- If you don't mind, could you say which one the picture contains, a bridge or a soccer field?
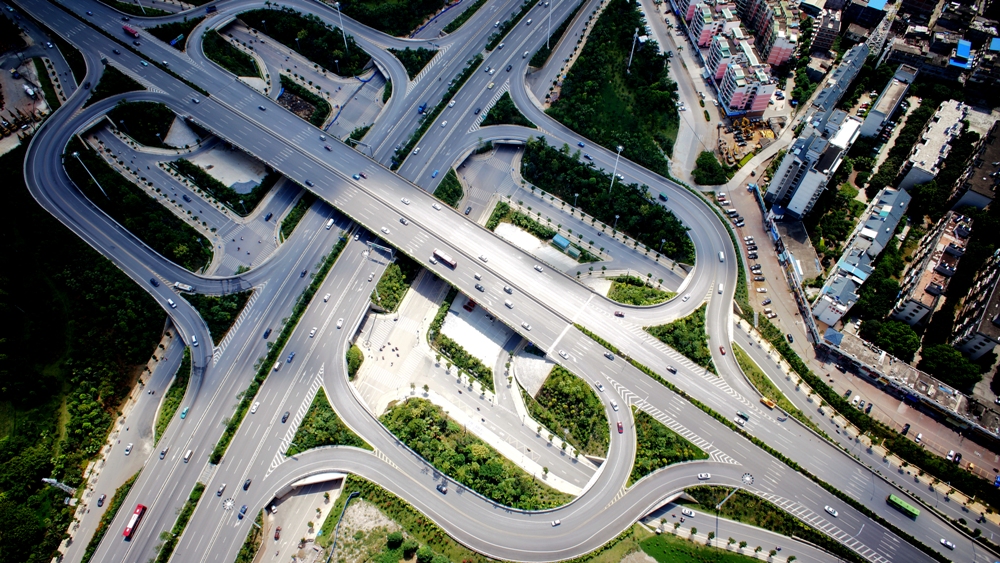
bridge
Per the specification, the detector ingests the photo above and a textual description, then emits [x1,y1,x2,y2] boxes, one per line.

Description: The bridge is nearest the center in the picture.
[208,76,594,323]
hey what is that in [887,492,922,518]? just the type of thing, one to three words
bus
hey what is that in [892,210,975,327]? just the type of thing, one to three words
building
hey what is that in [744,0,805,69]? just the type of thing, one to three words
building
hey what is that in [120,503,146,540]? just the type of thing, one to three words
bus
